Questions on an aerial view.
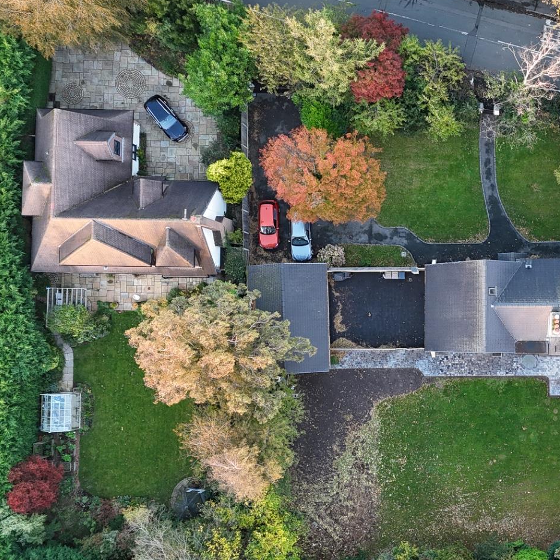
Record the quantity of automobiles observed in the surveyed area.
3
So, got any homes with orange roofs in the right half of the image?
No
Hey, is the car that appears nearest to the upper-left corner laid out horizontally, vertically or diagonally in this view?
diagonally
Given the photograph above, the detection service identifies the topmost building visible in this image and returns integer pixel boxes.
[22,108,236,274]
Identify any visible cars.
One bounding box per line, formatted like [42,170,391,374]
[288,210,314,261]
[254,200,281,247]
[141,91,191,145]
